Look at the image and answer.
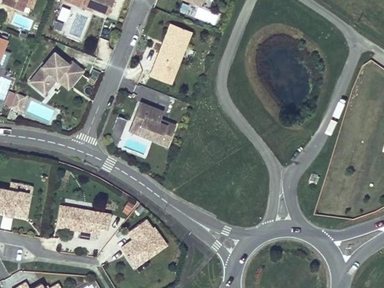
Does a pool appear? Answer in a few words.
Yes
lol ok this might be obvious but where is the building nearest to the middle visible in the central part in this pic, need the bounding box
[130,102,176,150]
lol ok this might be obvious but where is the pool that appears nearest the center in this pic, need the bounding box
[118,132,152,158]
